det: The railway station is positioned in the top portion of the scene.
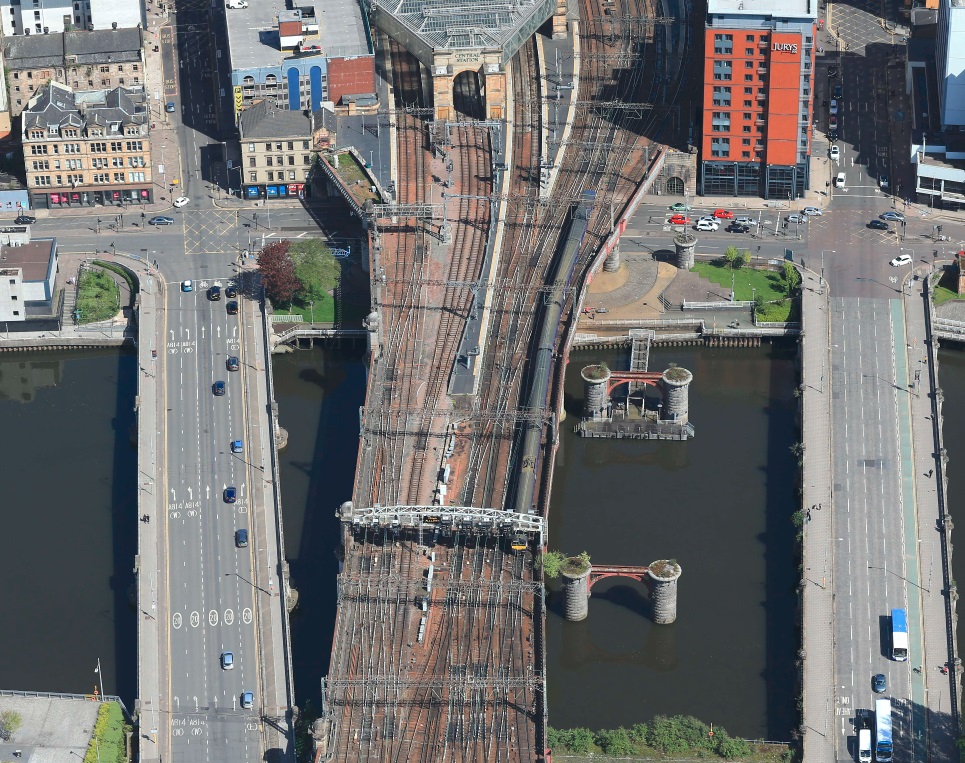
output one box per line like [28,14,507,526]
[352,0,571,119]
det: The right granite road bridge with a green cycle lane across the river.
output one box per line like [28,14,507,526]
[789,300,965,763]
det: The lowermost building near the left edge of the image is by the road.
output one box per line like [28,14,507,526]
[0,224,59,322]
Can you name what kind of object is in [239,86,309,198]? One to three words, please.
building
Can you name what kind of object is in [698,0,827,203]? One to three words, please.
building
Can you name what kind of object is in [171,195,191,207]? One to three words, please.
vehicle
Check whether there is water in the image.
Yes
